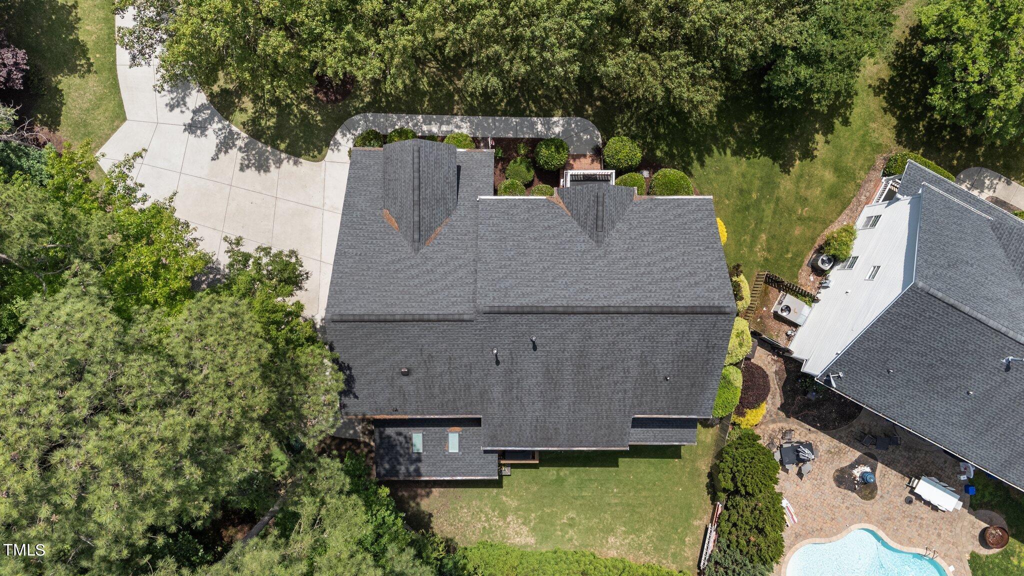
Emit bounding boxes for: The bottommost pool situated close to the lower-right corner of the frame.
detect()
[782,523,955,576]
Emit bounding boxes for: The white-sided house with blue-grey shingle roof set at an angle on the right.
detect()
[787,159,1024,496]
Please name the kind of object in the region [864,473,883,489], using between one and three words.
fountain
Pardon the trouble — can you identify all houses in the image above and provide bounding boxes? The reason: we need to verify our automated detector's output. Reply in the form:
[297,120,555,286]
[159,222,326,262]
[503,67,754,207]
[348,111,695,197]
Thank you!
[787,159,1024,496]
[325,139,736,482]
